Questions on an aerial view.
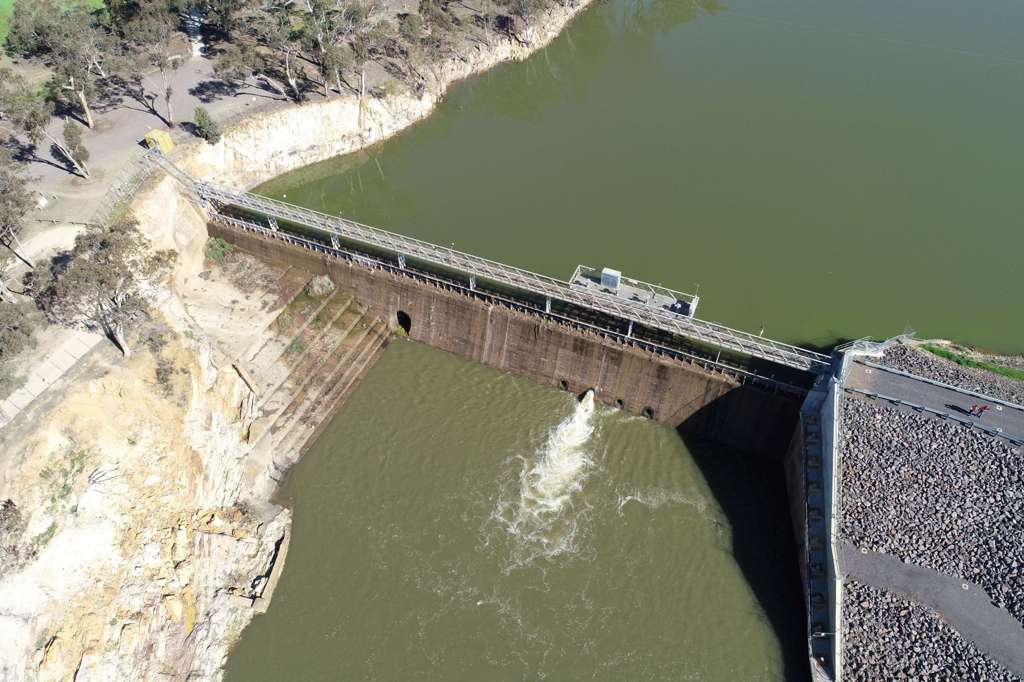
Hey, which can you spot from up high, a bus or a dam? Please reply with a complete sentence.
There is a dam in the scene.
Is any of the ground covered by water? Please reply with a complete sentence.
Yes, there's water in this view.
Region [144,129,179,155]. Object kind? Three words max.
shed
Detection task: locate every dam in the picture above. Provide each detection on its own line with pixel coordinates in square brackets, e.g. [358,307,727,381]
[203,217,805,461]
